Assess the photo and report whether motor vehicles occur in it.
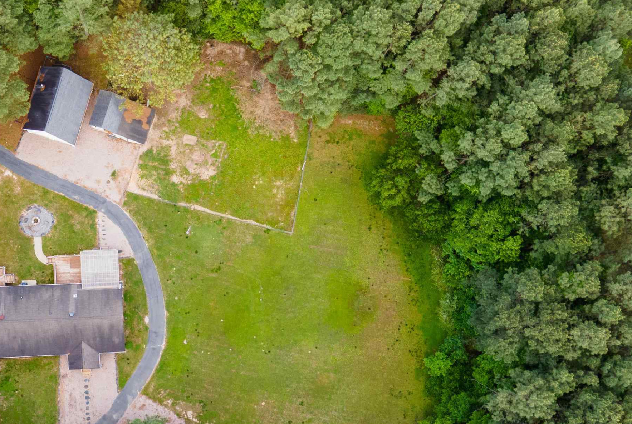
No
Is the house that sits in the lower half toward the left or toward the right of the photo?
left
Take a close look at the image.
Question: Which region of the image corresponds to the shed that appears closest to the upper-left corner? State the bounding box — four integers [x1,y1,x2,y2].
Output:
[20,66,94,149]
